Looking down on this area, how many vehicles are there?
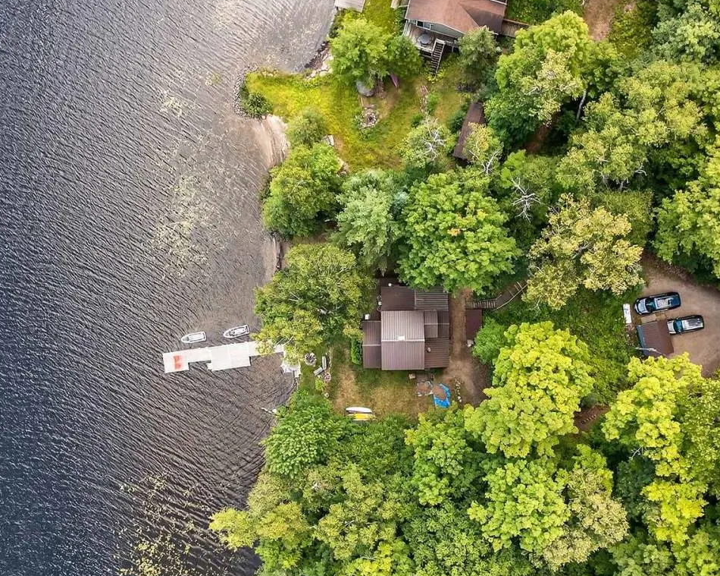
2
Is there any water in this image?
Yes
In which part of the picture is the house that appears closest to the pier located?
center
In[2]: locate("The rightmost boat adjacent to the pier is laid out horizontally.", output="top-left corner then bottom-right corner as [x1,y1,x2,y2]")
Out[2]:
[224,324,251,337]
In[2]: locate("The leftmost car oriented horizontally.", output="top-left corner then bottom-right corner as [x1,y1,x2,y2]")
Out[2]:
[632,293,681,314]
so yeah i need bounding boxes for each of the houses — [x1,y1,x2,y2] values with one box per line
[400,0,507,75]
[364,274,450,370]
